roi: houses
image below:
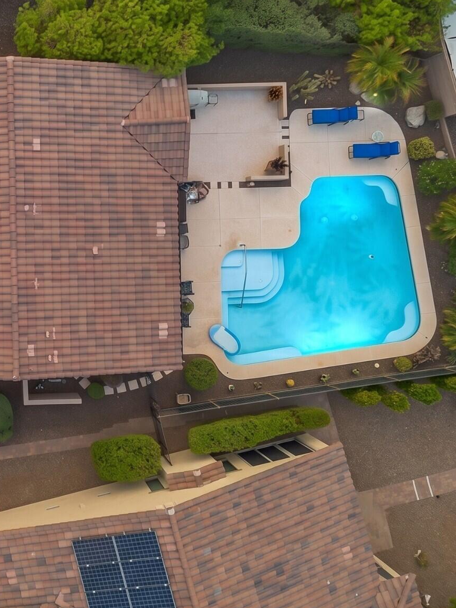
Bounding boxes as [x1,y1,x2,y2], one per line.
[0,431,433,608]
[0,54,192,385]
